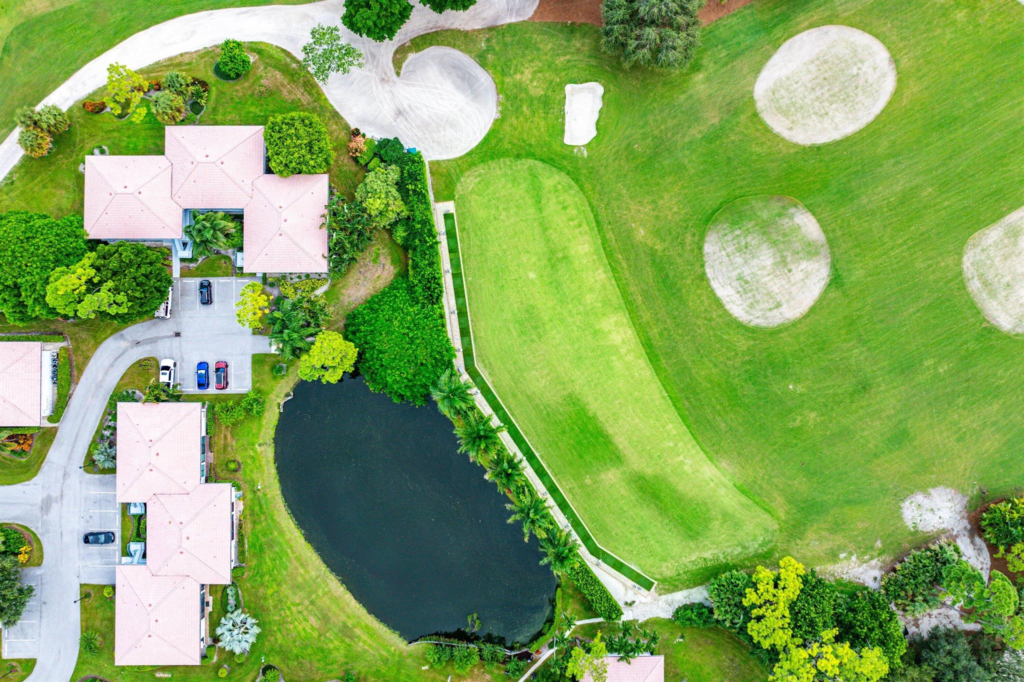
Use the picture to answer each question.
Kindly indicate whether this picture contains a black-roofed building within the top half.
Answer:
No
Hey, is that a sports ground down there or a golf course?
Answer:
golf course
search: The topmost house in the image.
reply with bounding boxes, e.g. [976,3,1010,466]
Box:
[83,125,332,273]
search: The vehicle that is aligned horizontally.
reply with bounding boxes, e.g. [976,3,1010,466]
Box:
[85,531,116,545]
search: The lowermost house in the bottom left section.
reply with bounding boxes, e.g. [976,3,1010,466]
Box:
[114,402,235,666]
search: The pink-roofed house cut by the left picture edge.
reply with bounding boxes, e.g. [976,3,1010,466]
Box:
[0,341,53,427]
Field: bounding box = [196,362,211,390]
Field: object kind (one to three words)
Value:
car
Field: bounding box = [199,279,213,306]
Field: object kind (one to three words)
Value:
car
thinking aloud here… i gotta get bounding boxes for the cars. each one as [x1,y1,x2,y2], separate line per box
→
[160,360,175,389]
[156,287,174,319]
[85,531,116,545]
[199,279,213,306]
[196,362,211,390]
[215,361,229,390]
